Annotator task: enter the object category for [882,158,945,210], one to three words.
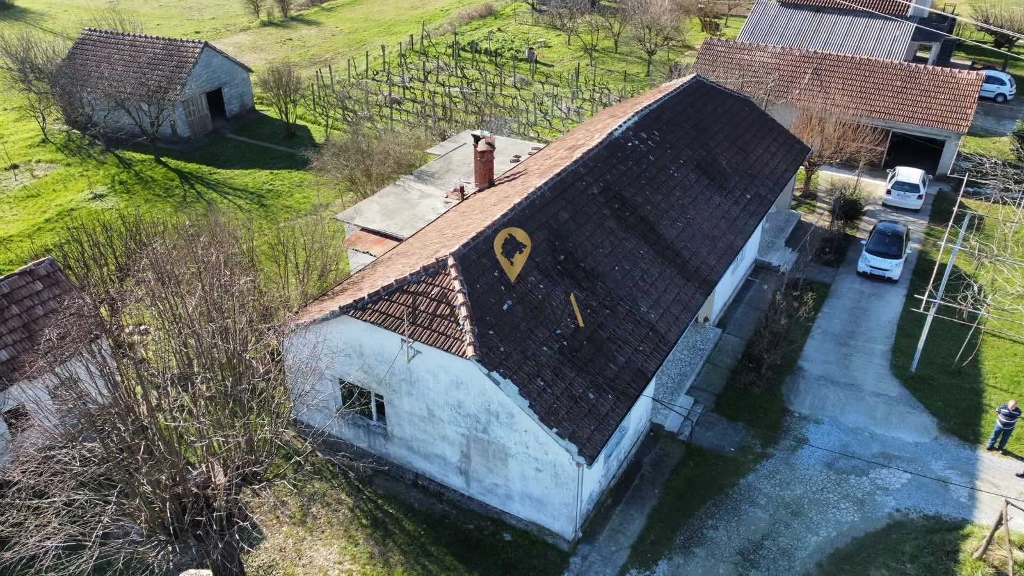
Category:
car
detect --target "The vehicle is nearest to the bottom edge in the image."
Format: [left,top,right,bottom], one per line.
[854,214,918,281]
